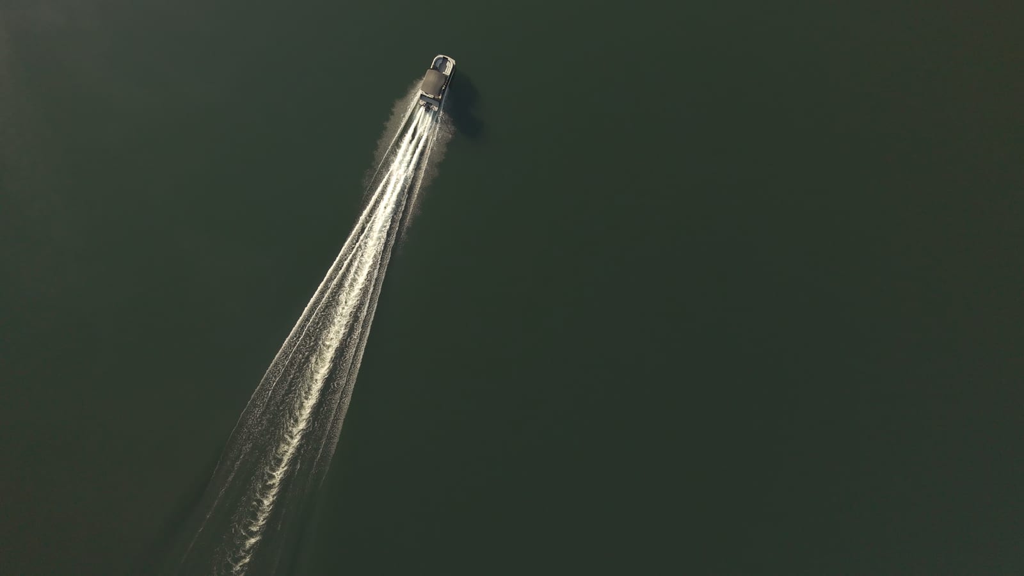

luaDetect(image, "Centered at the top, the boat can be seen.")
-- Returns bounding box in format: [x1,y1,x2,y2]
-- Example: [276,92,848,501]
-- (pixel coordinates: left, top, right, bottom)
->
[420,54,455,112]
